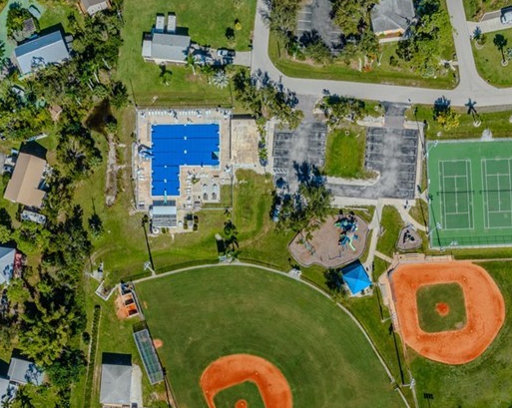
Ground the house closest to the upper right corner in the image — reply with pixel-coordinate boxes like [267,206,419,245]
[371,0,415,36]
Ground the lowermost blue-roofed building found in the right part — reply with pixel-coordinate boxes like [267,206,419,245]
[341,261,372,296]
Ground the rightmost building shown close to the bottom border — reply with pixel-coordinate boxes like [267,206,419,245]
[100,364,132,405]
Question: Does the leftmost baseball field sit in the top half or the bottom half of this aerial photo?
bottom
